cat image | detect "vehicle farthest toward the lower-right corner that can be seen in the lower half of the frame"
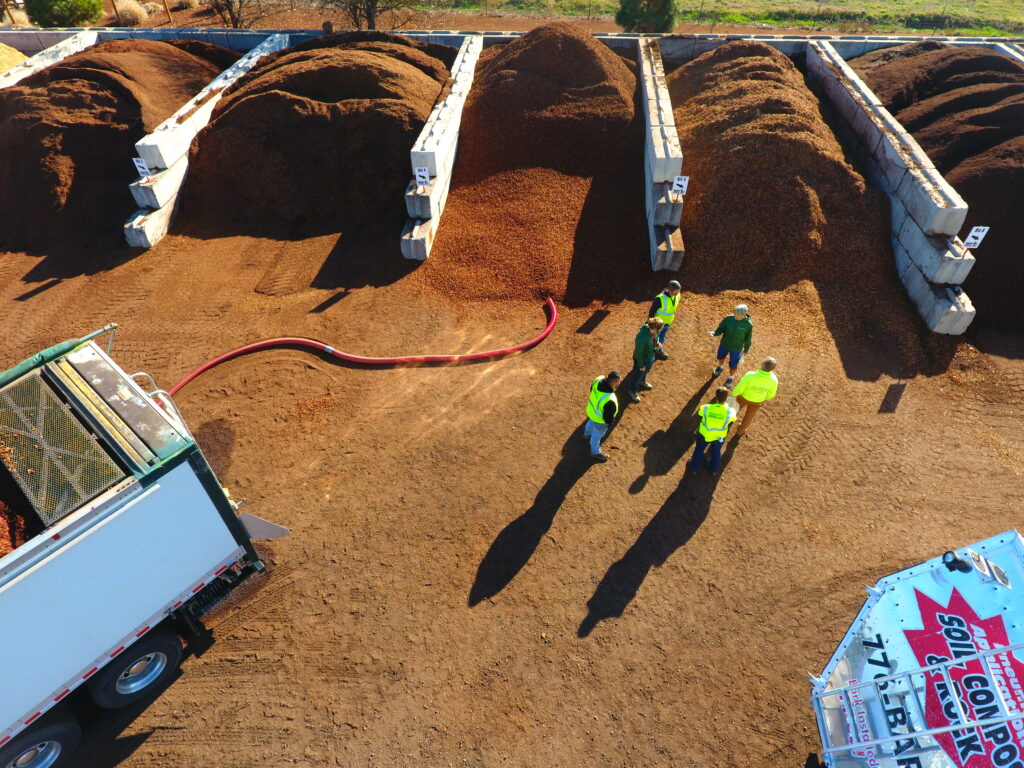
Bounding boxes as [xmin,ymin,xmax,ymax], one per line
[806,533,1024,768]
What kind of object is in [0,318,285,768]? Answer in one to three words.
trailer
